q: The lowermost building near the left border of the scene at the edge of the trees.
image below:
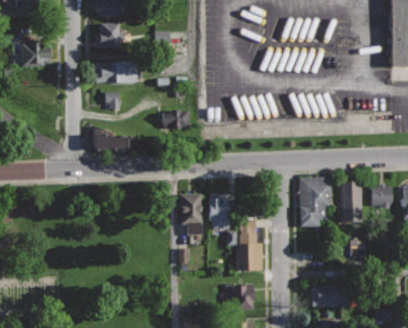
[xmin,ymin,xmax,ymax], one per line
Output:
[14,42,51,68]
